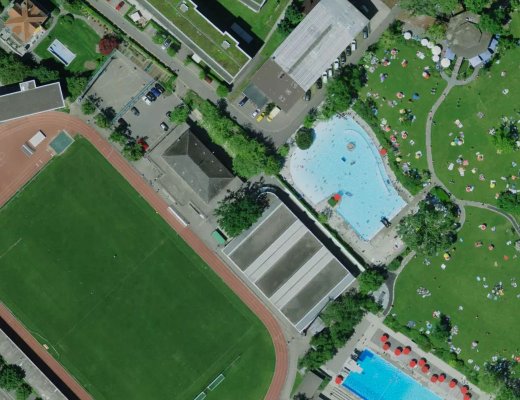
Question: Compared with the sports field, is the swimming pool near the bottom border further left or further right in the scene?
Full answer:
The sports field has the swimming pool near the bottom border on its right side.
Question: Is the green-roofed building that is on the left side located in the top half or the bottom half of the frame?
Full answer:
The green-roofed building that is on the left side is in the top half of the image.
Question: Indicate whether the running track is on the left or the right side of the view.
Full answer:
The running track is on the left side of the image.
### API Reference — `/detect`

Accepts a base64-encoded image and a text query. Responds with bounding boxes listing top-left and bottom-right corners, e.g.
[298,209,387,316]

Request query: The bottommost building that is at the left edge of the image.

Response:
[0,80,65,123]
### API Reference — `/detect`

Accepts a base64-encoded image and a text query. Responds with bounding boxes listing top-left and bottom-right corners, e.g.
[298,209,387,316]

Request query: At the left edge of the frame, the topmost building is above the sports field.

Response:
[1,0,48,56]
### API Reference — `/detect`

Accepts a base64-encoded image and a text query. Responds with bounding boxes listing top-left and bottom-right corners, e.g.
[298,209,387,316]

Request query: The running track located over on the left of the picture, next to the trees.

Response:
[0,108,289,400]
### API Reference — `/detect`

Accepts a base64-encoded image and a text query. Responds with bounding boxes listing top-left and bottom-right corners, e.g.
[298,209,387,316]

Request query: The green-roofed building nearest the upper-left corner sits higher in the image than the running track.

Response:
[135,0,252,83]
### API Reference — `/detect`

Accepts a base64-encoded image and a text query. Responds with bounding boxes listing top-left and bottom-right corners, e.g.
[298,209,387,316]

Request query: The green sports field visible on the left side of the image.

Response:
[0,132,276,400]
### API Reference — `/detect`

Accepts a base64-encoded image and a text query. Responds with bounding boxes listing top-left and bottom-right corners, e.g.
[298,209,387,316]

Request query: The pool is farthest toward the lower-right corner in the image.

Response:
[340,346,454,400]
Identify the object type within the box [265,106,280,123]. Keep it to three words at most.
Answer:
vehicle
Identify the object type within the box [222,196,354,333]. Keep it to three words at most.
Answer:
building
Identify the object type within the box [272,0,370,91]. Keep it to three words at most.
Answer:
building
